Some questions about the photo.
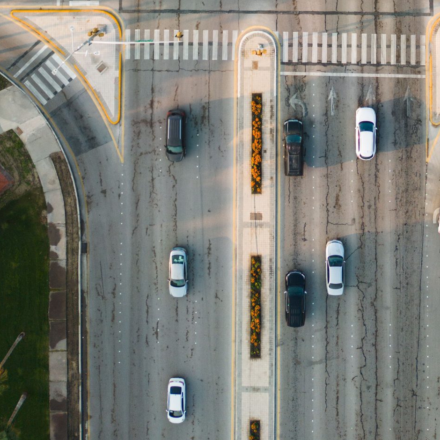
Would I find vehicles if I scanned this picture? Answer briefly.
Yes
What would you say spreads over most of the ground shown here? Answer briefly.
paved ground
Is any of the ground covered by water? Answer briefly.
No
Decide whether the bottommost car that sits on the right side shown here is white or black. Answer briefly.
black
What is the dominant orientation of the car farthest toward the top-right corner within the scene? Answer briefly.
vertically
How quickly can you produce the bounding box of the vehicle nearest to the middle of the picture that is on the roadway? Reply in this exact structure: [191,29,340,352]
[167,247,188,295]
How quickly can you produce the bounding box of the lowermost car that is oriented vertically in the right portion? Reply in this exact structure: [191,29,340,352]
[283,270,307,328]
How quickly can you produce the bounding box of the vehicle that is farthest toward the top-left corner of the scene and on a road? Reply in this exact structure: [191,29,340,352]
[164,109,186,160]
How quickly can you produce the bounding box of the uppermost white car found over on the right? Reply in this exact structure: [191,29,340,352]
[355,108,377,158]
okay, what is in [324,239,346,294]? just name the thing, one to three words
car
